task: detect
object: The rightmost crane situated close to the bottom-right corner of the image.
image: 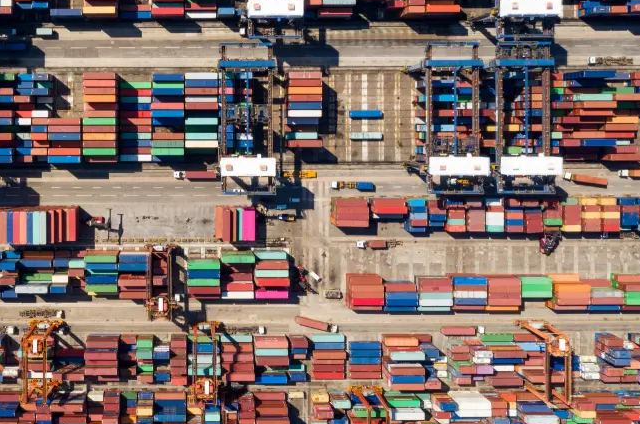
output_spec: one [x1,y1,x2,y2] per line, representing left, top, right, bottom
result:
[511,319,570,407]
